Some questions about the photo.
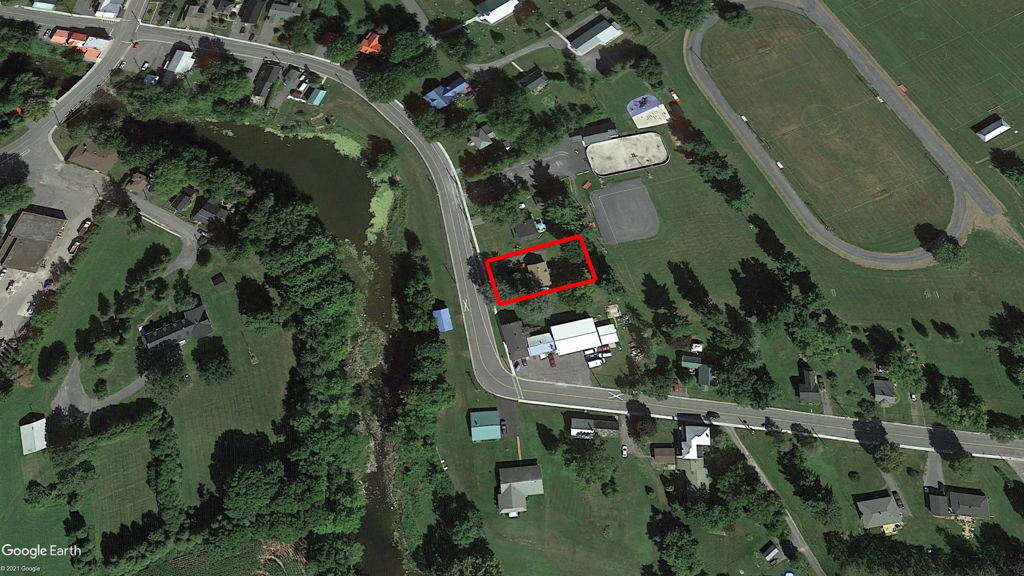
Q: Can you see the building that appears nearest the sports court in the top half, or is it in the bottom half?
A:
top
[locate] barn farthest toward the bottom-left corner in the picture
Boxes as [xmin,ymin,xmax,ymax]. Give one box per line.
[20,419,49,452]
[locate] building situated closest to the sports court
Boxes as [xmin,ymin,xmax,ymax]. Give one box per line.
[570,124,619,146]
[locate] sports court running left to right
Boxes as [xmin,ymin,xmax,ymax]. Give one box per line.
[586,133,668,175]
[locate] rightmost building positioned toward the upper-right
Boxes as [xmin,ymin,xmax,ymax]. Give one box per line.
[977,118,1008,143]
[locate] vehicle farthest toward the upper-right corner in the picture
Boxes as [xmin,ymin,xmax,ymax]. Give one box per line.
[669,86,681,104]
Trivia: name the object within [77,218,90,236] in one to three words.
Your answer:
vehicle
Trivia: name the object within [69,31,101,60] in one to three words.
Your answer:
building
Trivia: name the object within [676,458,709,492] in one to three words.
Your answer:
barn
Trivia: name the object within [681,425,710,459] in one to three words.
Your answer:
house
